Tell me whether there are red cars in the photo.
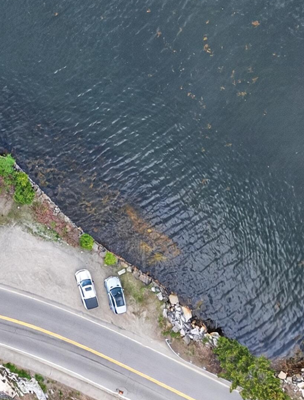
No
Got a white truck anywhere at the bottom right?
No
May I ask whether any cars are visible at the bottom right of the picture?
No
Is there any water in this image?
Yes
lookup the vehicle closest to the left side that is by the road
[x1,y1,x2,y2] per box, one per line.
[75,270,101,312]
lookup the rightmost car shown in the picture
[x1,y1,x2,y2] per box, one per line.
[106,276,131,318]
